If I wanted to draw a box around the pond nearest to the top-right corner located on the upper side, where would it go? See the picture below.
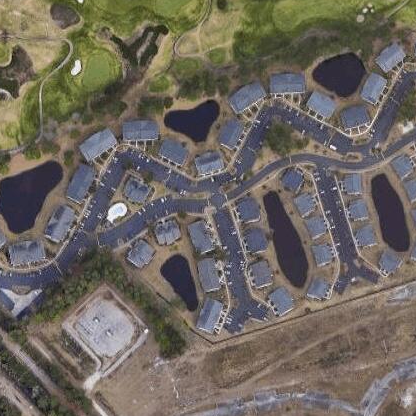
[313,54,364,97]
